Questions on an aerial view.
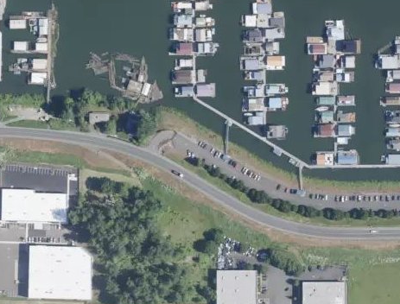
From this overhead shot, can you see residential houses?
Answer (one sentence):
Yes, a residential house appears in the view.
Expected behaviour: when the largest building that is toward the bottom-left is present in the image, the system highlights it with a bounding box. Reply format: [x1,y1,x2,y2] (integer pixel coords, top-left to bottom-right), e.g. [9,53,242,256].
[27,246,91,300]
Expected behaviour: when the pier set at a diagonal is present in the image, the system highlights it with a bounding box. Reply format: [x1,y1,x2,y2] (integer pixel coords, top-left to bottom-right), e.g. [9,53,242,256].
[193,95,309,167]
